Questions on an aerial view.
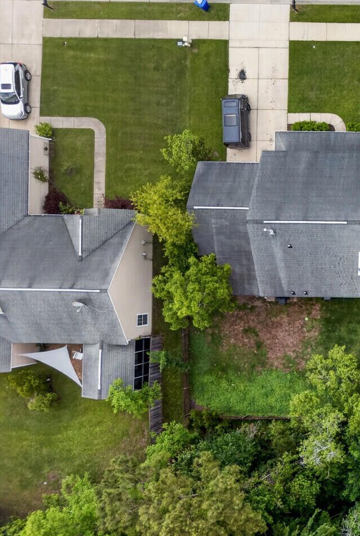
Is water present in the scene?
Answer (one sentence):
No, there is no water in the image.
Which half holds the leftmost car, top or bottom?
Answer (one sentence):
Seen from above, the leftmost car lies in the top half of the view.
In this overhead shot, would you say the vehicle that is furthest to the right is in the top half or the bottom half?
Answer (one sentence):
The top half of the photo is where the vehicle that is furthest to the right is.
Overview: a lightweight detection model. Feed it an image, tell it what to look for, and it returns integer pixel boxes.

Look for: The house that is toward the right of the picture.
[187,131,360,297]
